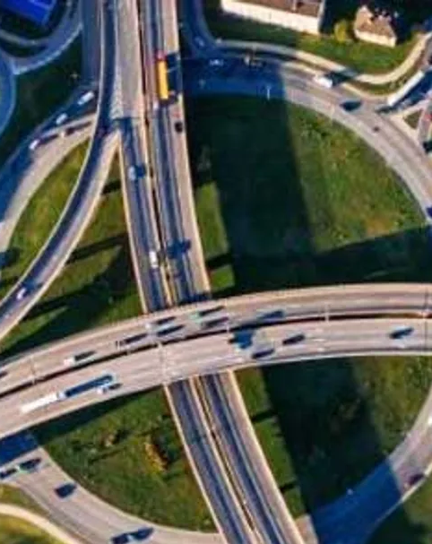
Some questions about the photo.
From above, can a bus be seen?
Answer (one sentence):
Yes, a bus can be made out from above.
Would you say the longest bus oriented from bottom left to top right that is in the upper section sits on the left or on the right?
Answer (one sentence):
The longest bus oriented from bottom left to top right that is in the upper section appears in the right half of the scene.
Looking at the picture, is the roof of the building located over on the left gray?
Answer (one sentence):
No, the roof of the building located over on the left is actually blue.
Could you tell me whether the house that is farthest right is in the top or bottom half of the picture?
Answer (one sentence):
Seen from above, the house that is farthest right lies in the top half of the view.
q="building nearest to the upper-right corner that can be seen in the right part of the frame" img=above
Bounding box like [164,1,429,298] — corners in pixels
[353,4,404,47]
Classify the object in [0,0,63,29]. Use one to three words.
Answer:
building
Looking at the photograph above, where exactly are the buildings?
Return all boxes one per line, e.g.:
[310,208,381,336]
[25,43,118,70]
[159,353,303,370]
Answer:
[226,0,324,33]
[353,4,404,47]
[0,0,63,29]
